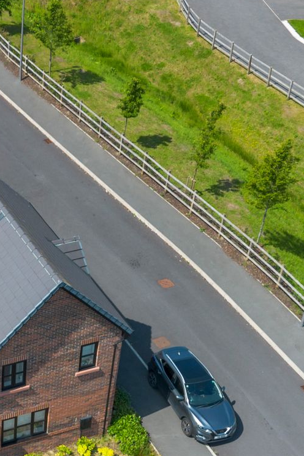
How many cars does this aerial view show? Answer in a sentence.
Altogether the scene contains 1 car.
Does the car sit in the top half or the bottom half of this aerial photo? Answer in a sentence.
The car is in the bottom half of the image.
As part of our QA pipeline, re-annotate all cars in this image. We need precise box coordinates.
[146,342,245,444]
